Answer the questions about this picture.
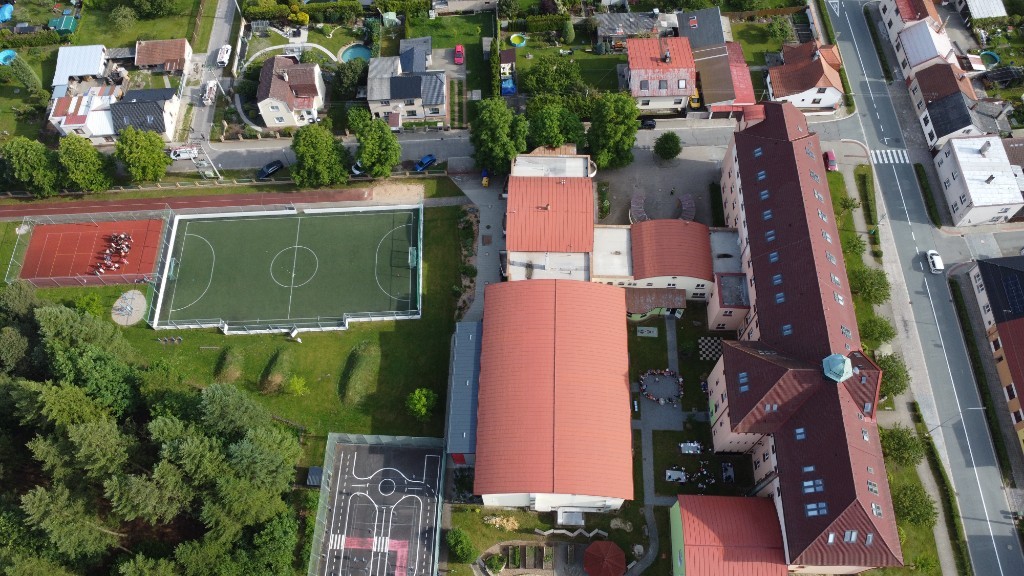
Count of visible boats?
0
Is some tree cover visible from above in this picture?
Yes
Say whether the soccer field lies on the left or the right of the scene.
left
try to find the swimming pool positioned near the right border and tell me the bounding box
[982,51,1000,69]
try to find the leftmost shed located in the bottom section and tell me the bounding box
[307,467,326,488]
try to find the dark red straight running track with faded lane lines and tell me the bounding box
[0,188,372,218]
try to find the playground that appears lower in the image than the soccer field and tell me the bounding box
[318,443,442,576]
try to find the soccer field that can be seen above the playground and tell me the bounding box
[155,206,423,336]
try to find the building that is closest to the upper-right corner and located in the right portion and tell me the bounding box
[950,0,1007,35]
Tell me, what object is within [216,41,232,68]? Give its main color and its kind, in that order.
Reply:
white vehicle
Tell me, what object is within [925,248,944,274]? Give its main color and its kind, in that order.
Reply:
white car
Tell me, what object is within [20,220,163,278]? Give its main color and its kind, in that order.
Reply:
red sports court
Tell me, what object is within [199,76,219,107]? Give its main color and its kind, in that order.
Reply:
white vehicle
